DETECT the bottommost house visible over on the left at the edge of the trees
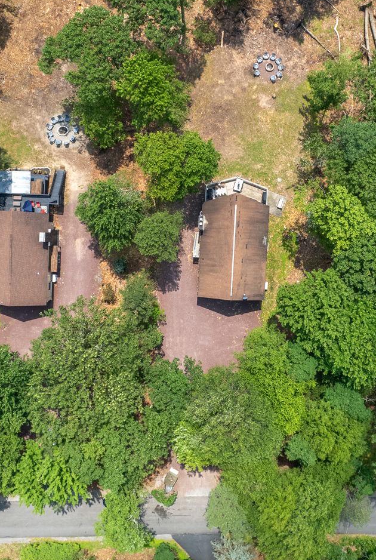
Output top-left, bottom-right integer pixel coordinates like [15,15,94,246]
[0,211,62,307]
